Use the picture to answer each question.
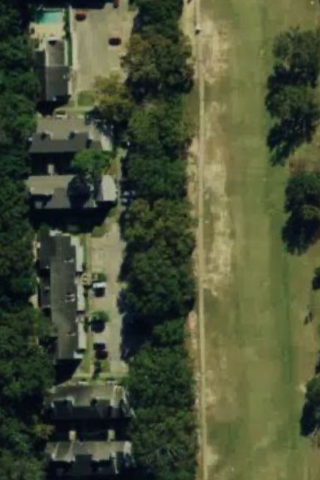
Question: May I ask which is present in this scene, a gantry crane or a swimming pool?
swimming pool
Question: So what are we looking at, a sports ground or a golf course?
golf course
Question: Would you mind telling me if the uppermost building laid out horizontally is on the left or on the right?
left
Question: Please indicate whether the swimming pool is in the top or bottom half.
top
